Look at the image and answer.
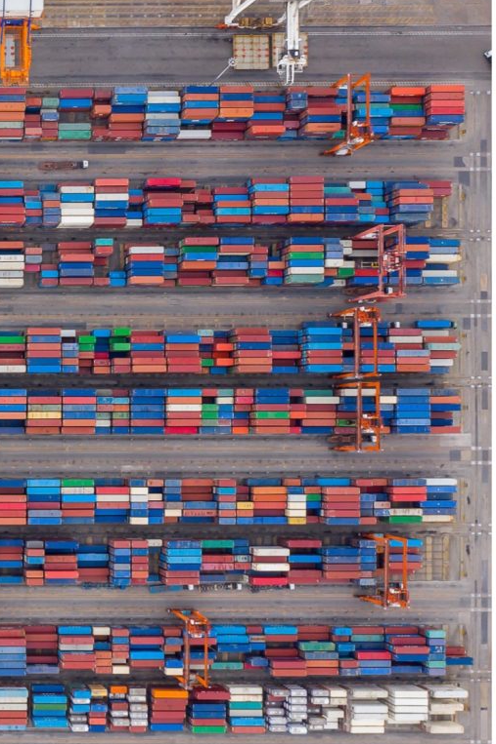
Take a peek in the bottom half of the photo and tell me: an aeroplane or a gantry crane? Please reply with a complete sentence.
The feature located in the bottom half of the photo is a gantry crane.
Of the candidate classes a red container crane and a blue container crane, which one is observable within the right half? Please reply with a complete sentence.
There is a red container crane within the right half.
